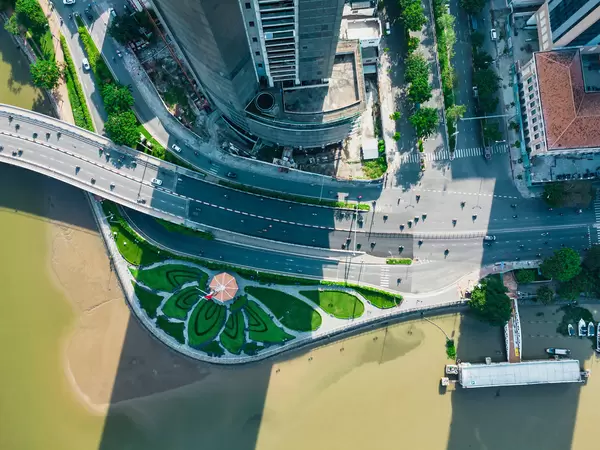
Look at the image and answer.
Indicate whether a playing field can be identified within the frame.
No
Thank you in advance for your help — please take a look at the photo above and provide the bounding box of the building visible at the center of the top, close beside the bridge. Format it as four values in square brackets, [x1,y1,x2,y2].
[156,0,366,158]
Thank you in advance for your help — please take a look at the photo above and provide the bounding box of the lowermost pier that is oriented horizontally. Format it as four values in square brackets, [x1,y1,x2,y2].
[454,355,581,388]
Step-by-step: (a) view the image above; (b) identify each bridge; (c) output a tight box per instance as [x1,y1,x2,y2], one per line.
[0,104,340,253]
